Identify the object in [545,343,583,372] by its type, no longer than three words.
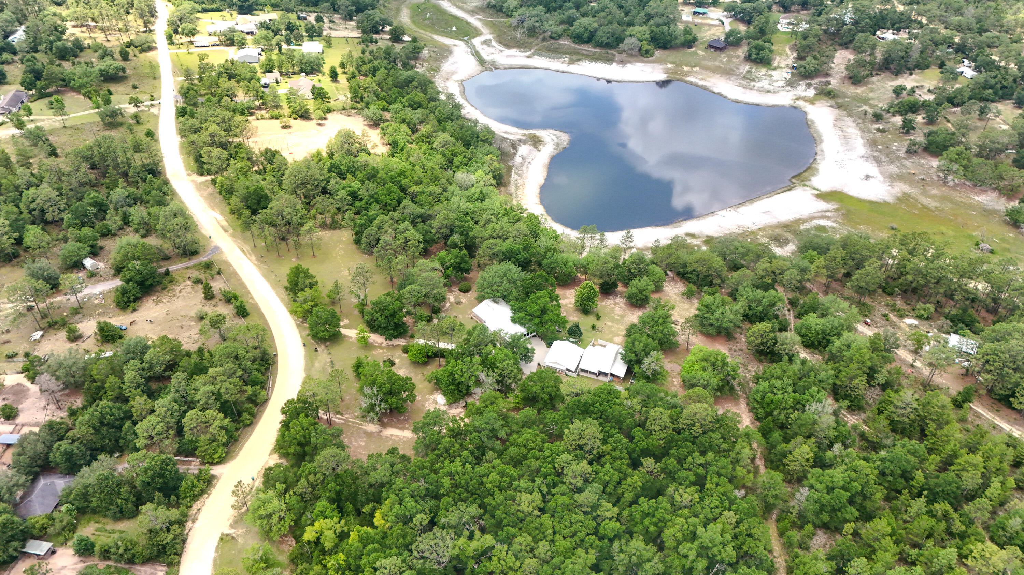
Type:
building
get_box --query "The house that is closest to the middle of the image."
[472,302,527,350]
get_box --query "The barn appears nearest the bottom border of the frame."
[23,538,55,559]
